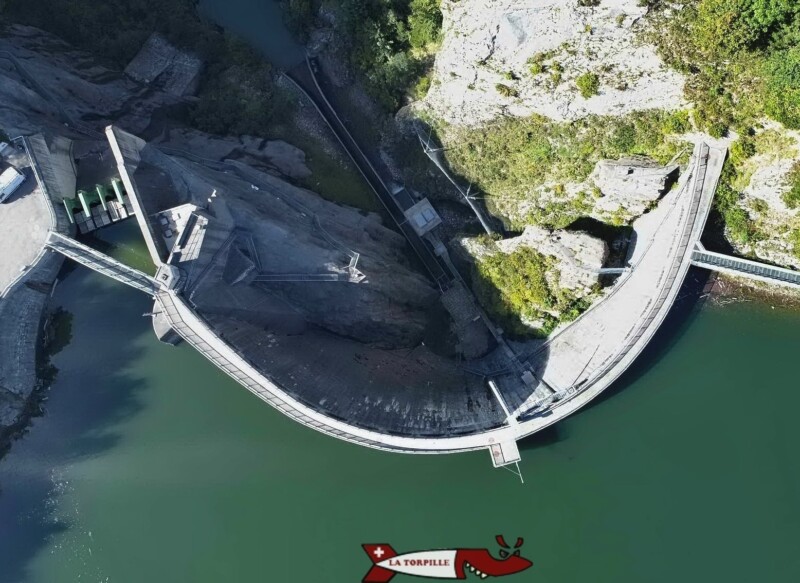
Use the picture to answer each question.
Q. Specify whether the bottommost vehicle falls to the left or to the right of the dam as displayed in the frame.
left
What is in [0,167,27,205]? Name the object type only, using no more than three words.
vehicle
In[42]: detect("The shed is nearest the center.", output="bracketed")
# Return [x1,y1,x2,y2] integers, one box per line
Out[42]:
[405,199,441,236]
